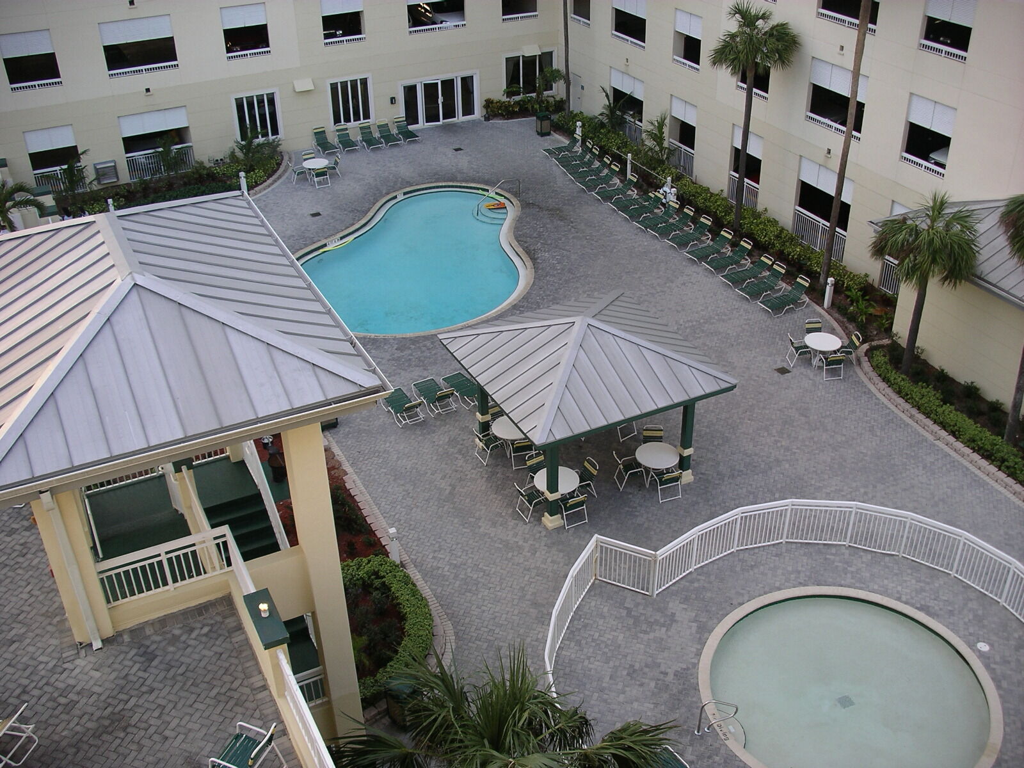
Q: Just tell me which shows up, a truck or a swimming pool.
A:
swimming pool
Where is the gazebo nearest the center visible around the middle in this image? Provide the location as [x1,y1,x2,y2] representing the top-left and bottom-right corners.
[439,289,739,531]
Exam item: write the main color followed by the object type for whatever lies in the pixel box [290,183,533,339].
blue swimming pool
